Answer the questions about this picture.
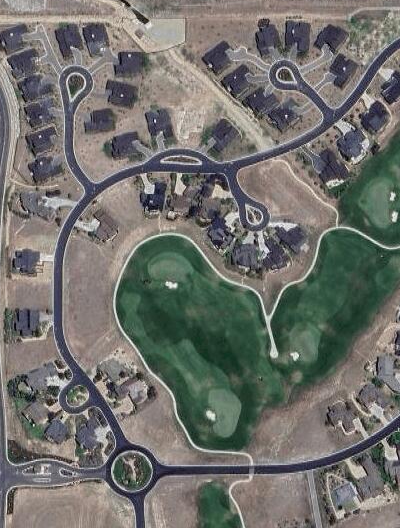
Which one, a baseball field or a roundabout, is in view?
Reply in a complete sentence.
This aerial view contains a roundabout.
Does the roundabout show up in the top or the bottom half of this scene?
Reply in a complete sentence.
You can find the roundabout in the bottom half.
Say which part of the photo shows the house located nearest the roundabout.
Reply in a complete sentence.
The house located nearest the roundabout appears toward the bottom left of the photo.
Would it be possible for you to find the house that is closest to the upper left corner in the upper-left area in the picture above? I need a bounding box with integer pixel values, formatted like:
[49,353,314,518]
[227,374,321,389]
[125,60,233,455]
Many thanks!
[0,22,28,51]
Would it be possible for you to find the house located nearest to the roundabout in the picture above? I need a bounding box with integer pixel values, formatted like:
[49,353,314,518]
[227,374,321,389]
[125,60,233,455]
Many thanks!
[70,411,108,453]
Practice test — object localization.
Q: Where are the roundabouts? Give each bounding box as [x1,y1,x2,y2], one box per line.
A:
[102,440,165,504]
